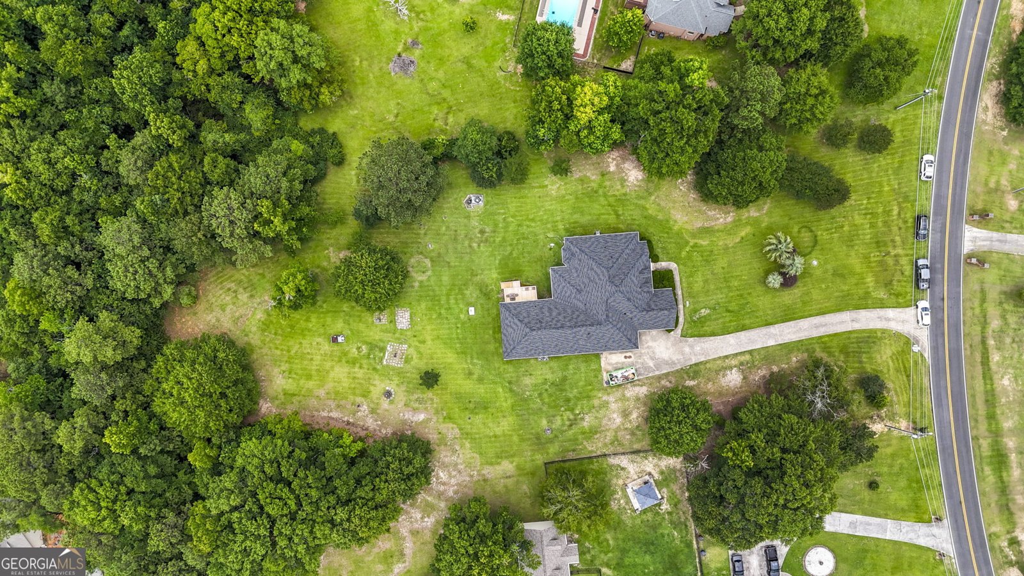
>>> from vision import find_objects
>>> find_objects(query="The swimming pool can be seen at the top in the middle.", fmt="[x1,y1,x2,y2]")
[537,0,602,59]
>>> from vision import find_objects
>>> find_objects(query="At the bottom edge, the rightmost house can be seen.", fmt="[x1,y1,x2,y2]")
[518,522,580,576]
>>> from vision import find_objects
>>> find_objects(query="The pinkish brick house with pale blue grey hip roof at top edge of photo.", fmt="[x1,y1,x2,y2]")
[642,0,739,43]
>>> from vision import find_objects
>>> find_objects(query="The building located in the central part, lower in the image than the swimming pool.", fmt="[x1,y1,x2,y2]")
[500,231,676,360]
